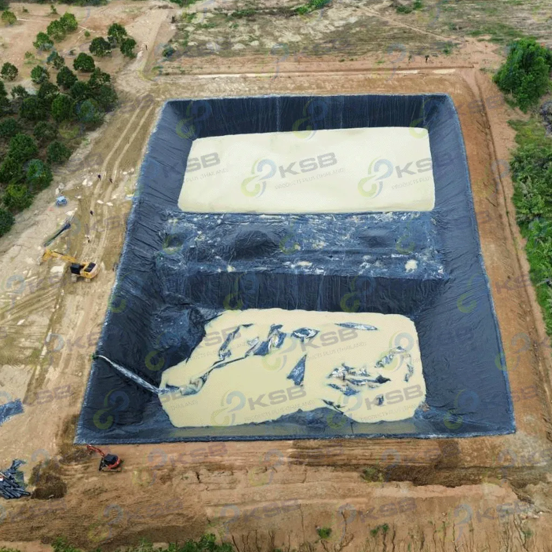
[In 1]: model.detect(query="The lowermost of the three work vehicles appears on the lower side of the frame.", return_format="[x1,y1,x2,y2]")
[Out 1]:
[91,445,121,476]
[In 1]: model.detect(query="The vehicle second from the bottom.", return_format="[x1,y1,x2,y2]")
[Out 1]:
[45,249,100,286]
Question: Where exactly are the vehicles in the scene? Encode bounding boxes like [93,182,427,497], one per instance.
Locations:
[91,445,121,476]
[45,249,100,286]
[53,192,68,209]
